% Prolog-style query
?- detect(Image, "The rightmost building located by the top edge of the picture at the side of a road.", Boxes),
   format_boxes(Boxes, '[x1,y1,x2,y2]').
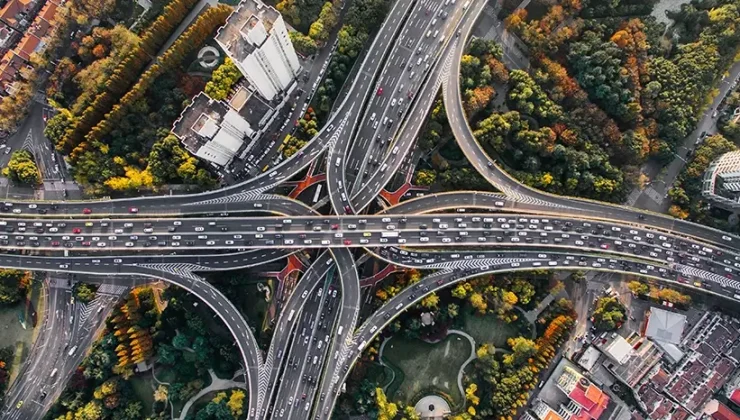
[218,0,304,103]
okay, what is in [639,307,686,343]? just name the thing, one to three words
building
